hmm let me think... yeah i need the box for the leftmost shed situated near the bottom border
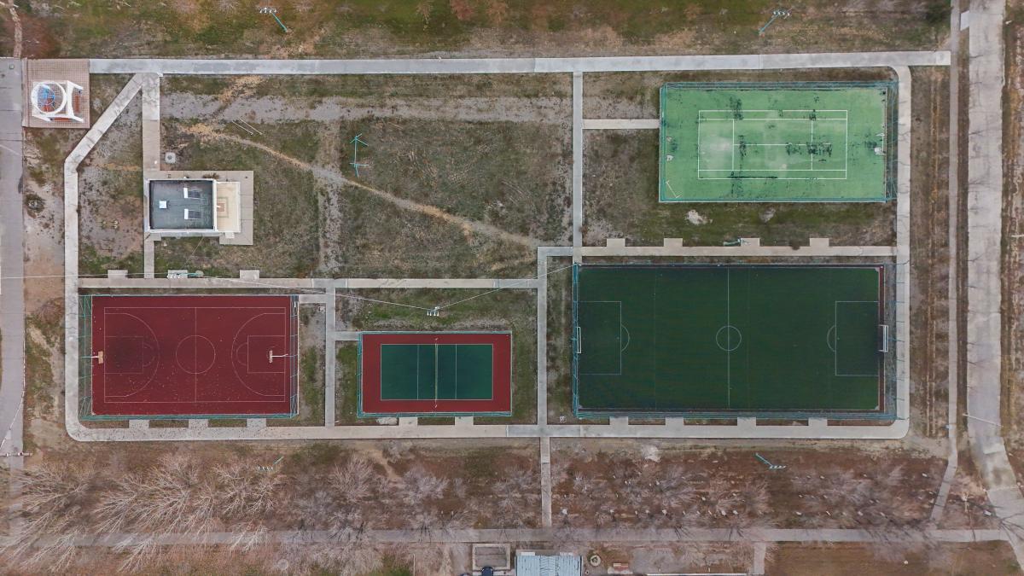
[473,541,510,569]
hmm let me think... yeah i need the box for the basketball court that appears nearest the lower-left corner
[91,296,299,417]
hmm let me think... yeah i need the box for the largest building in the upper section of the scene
[148,179,243,239]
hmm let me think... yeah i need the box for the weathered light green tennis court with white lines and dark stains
[660,87,887,203]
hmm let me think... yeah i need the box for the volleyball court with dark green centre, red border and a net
[362,333,512,414]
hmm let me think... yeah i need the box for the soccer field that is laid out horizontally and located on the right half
[573,263,885,413]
